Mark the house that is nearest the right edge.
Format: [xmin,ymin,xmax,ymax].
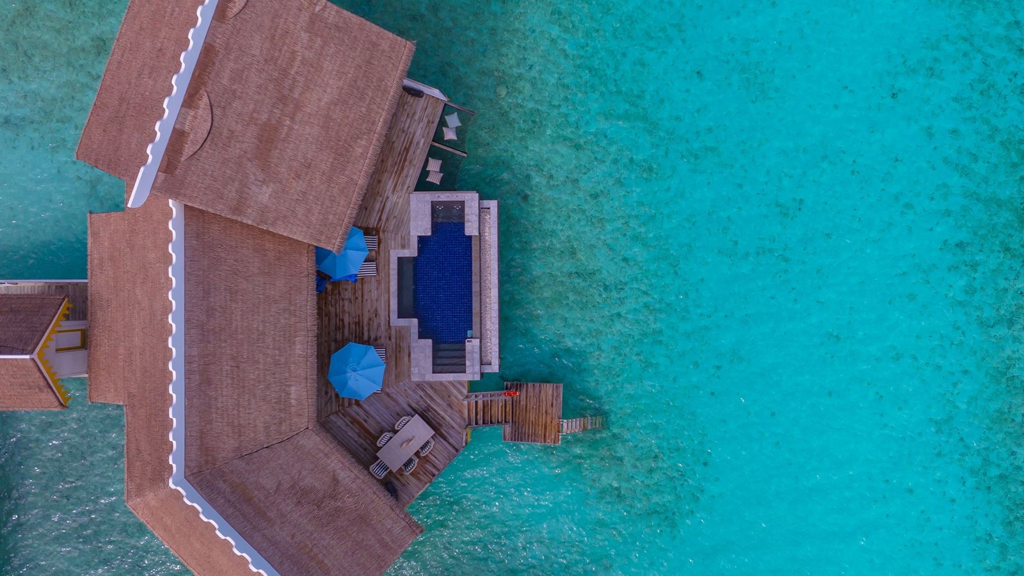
[76,0,424,576]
